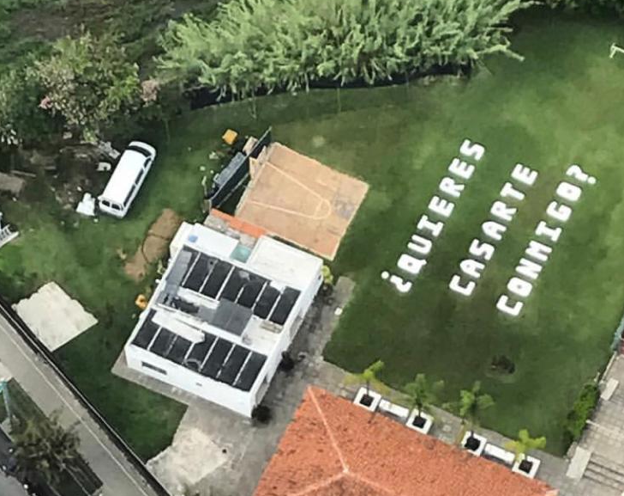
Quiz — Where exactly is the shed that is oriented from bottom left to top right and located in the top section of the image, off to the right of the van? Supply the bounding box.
[211,138,255,191]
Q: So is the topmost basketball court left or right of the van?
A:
on the right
